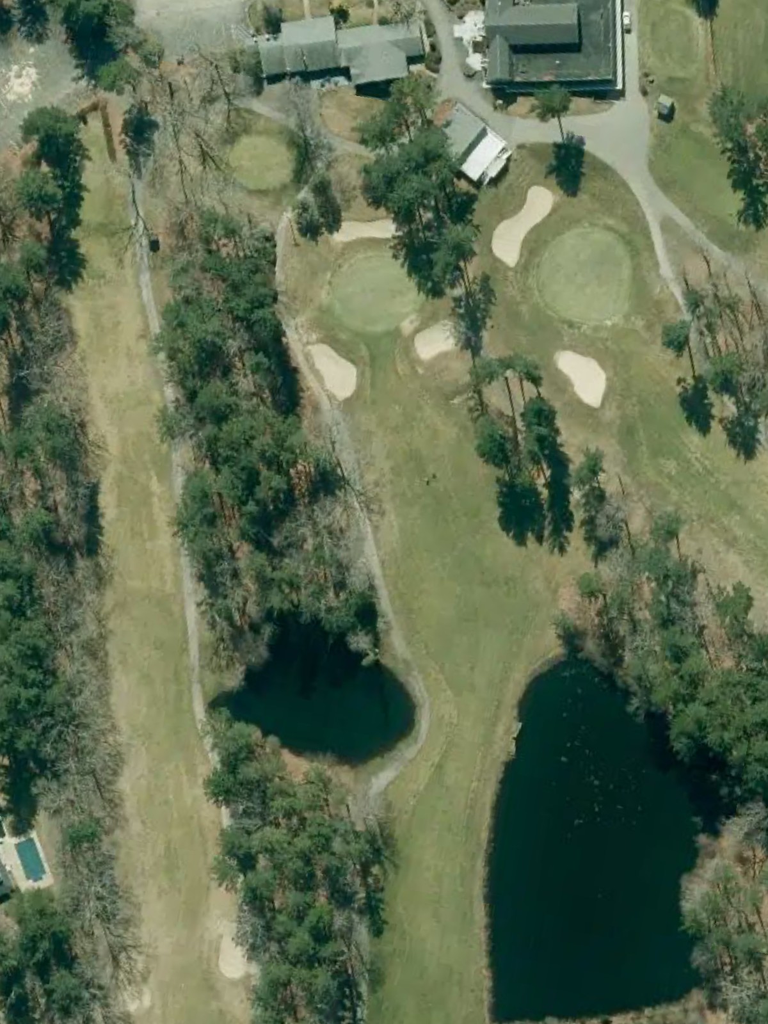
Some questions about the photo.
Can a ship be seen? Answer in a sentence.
No, I can see no ship in this picture.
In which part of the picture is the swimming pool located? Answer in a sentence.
You can find the swimming pool in the bottom left area of the picture.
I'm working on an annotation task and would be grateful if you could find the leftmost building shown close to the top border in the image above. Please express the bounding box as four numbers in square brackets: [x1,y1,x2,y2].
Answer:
[257,17,425,85]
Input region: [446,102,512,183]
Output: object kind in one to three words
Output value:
building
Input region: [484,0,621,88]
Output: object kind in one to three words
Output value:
building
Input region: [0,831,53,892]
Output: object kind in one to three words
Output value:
swimming pool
